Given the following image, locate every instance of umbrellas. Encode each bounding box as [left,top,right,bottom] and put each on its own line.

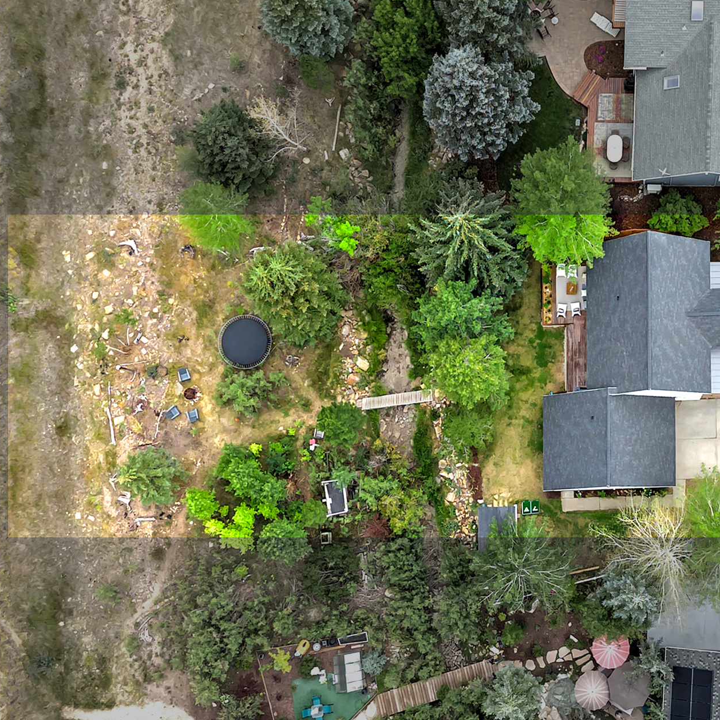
[607,662,652,706]
[592,631,630,667]
[575,673,610,709]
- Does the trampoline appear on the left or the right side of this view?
left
